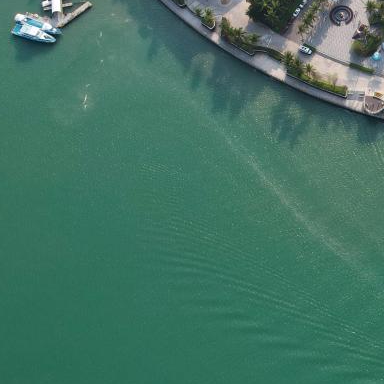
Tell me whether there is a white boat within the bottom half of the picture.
No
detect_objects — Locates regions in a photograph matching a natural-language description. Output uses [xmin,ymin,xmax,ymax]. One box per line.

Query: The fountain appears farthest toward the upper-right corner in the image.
[329,3,354,24]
